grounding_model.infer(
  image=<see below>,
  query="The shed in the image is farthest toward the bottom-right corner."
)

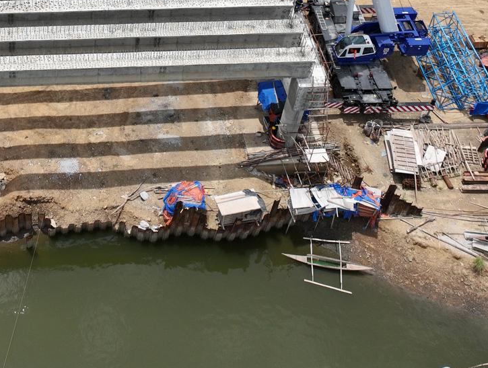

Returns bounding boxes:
[284,182,383,244]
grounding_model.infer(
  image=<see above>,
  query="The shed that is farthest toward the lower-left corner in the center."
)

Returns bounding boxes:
[214,187,269,232]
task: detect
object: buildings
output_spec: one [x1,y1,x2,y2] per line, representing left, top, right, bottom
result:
[284,182,383,244]
[214,187,269,232]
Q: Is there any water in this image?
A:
Yes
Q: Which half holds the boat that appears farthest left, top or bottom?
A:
bottom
